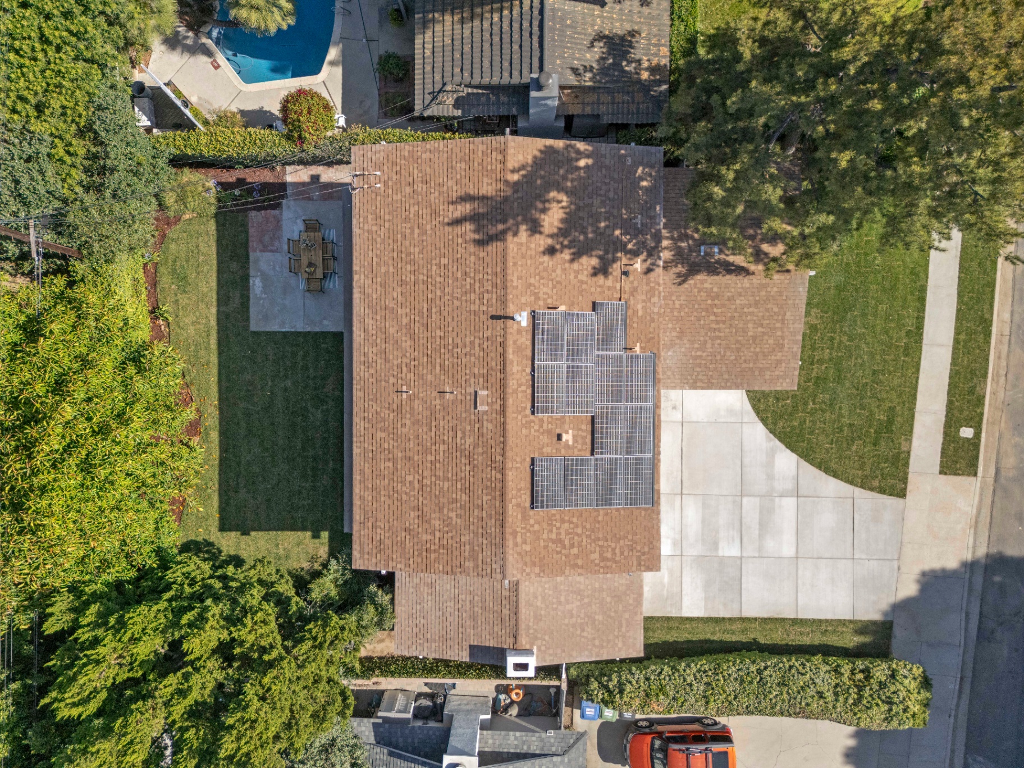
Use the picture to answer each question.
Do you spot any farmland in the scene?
No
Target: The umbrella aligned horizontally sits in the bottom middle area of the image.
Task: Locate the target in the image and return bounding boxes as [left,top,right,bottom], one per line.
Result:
[423,683,456,697]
